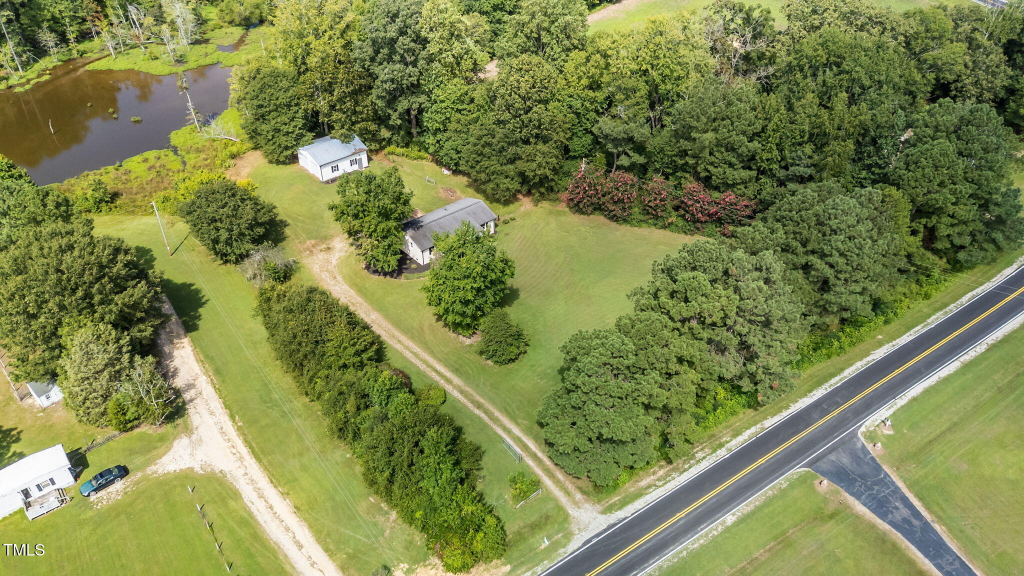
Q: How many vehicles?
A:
1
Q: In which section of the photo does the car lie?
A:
bottom left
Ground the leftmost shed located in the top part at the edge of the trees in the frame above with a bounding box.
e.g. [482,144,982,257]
[302,134,369,181]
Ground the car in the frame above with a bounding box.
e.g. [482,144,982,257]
[79,465,126,497]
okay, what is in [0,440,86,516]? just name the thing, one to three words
house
